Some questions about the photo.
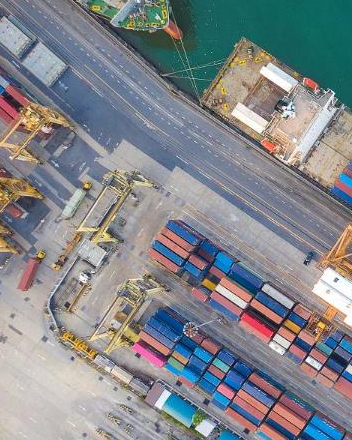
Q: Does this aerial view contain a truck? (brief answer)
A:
Yes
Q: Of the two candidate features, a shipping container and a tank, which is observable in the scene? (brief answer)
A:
shipping container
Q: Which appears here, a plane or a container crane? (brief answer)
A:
container crane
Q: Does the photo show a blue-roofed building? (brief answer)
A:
Yes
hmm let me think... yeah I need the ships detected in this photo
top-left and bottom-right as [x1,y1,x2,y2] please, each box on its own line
[88,0,185,37]
[204,41,352,190]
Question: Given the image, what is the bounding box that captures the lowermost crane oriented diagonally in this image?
[83,273,175,359]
